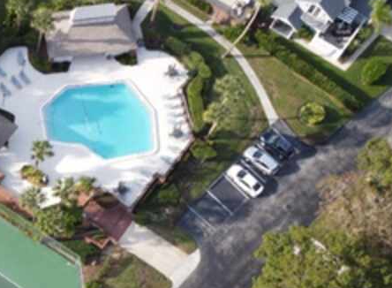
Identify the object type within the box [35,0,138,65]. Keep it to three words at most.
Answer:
building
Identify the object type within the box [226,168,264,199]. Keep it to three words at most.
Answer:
car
